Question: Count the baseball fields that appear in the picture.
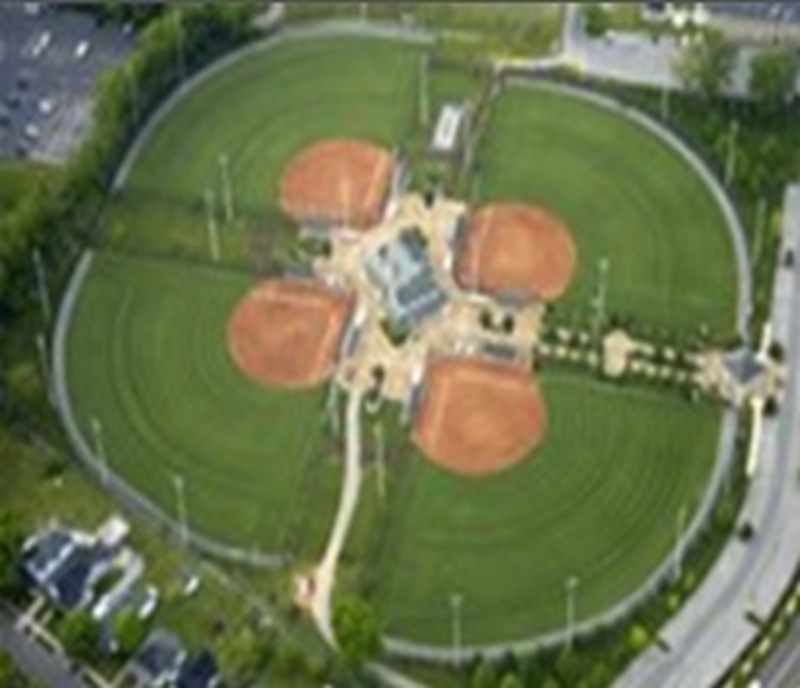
four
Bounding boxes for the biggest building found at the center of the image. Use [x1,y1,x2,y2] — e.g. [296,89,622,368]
[359,228,451,330]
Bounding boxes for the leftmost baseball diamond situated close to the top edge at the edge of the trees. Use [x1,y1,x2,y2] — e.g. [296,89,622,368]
[113,22,438,230]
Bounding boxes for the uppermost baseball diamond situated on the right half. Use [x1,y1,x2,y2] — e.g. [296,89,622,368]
[452,75,751,344]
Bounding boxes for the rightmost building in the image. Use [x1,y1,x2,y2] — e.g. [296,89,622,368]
[722,347,766,389]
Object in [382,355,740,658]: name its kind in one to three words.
baseball field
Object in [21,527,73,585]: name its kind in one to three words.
house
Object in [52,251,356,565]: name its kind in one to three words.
baseball field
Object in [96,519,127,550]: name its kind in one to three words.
building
